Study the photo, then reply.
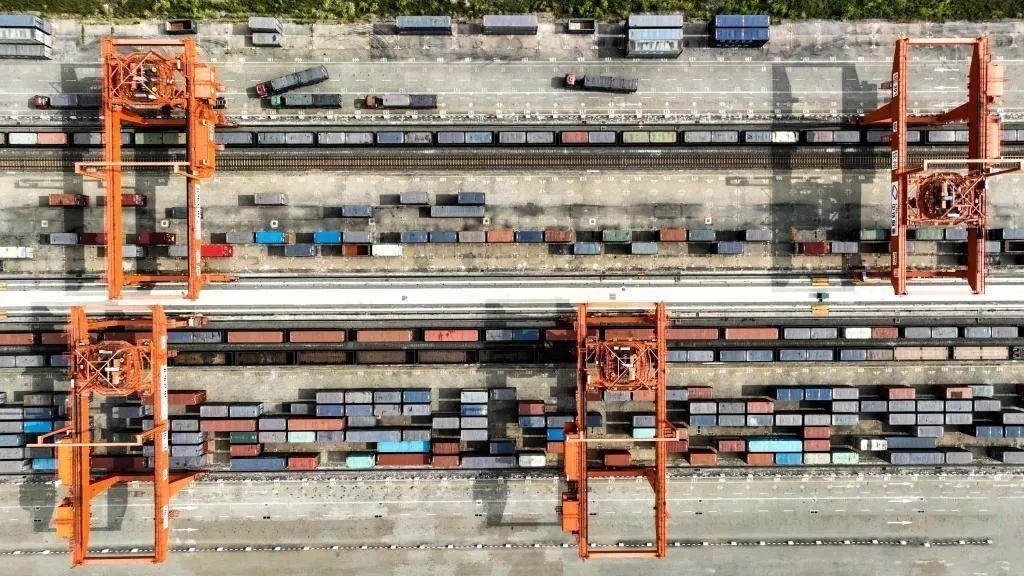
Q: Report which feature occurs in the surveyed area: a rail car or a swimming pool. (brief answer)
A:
rail car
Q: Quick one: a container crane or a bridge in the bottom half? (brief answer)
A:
container crane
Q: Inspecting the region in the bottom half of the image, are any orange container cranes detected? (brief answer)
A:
Yes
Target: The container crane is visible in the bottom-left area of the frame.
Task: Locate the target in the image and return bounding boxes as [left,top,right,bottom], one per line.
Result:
[26,303,210,564]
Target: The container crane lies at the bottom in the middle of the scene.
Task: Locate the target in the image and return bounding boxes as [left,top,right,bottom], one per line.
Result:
[550,300,682,558]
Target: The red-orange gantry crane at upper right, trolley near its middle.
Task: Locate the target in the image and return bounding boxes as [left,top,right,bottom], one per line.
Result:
[845,38,1024,294]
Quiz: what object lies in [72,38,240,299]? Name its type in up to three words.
container crane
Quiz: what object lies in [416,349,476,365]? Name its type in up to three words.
rail car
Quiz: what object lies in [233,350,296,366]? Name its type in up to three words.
rail car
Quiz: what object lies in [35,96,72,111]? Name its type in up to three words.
vehicle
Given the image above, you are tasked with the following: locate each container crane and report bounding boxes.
[845,38,1024,294]
[26,303,210,564]
[550,300,682,558]
[72,38,240,299]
